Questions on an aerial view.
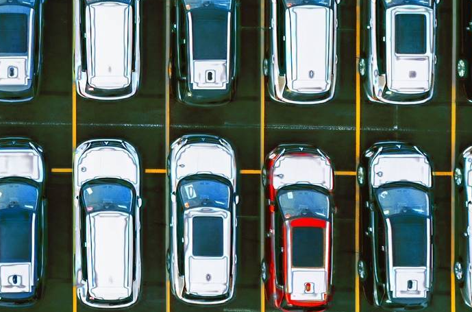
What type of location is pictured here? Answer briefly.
parking lot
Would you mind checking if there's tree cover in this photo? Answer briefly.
No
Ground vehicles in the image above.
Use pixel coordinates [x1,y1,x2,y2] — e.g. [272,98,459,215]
[73,140,142,307]
[0,0,46,104]
[169,0,241,107]
[263,145,338,311]
[73,0,140,101]
[362,0,436,104]
[359,143,437,309]
[167,136,240,302]
[0,138,48,304]
[264,0,337,104]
